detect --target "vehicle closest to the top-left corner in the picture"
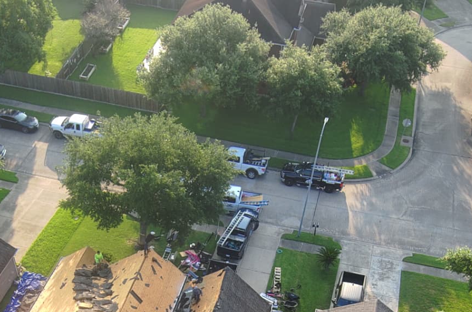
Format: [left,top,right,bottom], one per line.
[0,111,39,136]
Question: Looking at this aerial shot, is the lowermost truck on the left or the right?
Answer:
right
